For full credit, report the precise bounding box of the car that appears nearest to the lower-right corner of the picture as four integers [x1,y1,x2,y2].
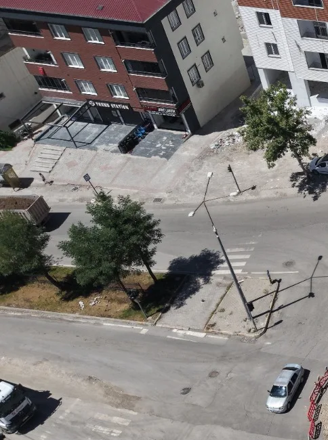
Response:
[261,361,309,416]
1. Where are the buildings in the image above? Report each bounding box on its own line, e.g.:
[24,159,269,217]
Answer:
[237,0,328,102]
[0,0,254,133]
